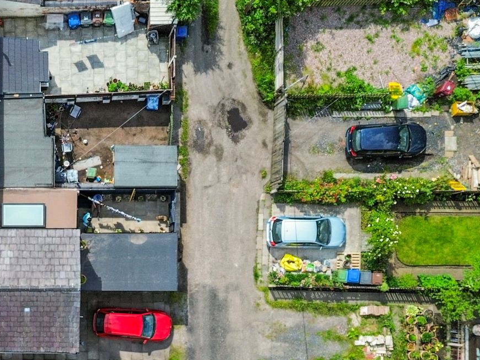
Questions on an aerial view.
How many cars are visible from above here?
3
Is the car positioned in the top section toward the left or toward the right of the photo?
right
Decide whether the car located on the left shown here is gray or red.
red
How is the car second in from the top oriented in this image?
horizontally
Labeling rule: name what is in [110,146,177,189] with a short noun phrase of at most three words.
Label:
shed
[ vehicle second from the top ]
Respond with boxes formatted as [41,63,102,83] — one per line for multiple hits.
[270,211,347,250]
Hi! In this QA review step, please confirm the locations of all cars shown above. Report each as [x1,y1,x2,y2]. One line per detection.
[270,211,347,250]
[96,306,172,346]
[349,118,430,158]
